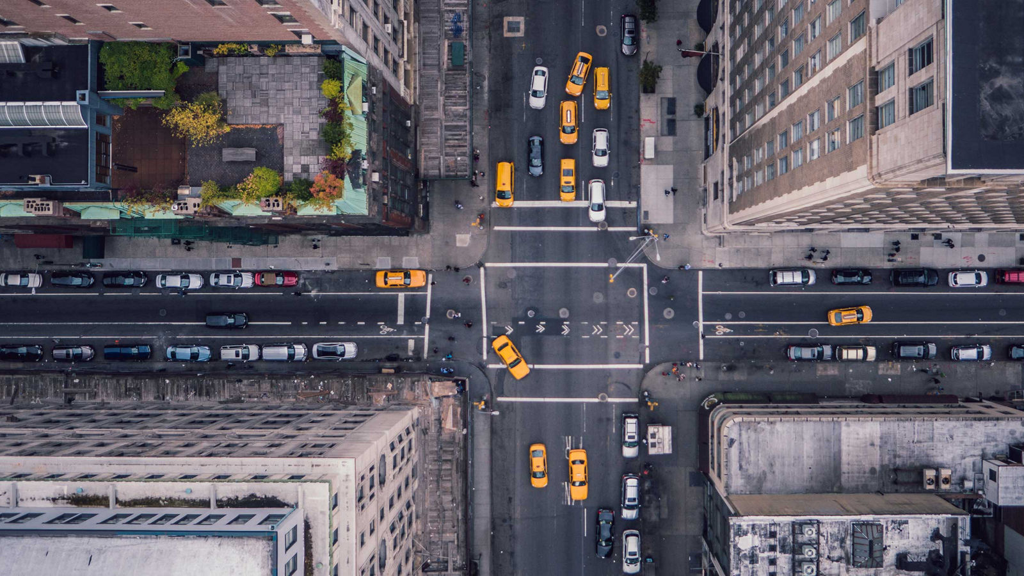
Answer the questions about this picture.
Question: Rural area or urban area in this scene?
urban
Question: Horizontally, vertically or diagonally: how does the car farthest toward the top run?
vertically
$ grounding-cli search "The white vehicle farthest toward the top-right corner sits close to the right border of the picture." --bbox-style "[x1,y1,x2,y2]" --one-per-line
[946,269,987,289]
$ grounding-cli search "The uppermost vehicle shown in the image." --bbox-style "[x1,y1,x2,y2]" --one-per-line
[619,14,639,57]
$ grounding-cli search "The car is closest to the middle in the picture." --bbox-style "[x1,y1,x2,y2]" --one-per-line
[493,333,529,381]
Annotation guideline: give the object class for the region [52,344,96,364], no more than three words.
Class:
car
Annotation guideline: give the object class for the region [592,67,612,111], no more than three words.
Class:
car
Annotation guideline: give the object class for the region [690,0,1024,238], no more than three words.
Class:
building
